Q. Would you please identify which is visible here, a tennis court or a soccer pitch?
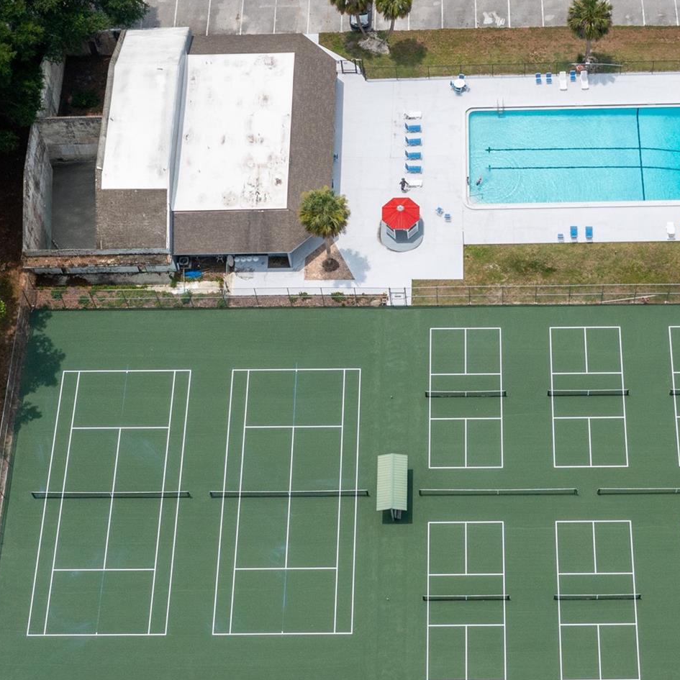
tennis court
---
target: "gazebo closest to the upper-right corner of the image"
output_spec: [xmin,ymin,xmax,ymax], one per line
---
[380,198,423,252]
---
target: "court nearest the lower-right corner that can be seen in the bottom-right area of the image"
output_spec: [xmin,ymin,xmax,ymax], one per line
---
[553,519,642,680]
